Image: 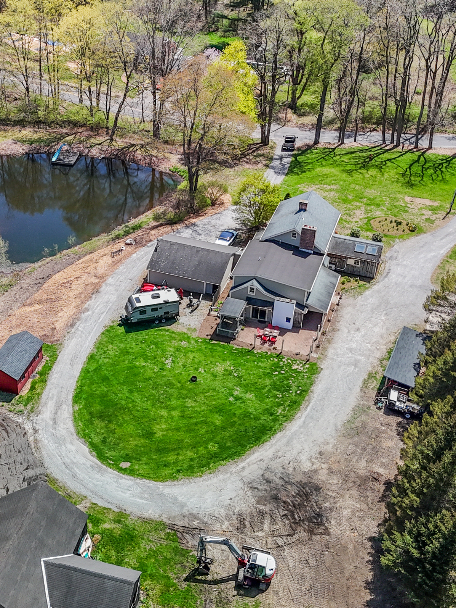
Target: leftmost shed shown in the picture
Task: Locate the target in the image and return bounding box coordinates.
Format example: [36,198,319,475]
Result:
[0,331,43,394]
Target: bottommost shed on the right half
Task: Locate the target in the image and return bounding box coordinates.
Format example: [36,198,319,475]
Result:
[382,325,426,404]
